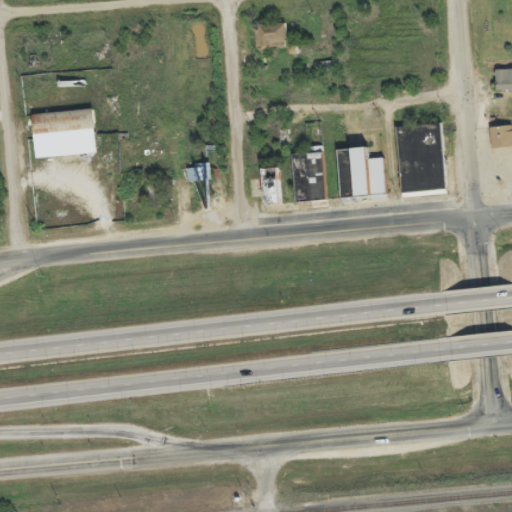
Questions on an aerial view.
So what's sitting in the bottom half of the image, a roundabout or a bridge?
bridge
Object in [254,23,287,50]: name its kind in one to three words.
house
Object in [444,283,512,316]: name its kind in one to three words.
bridge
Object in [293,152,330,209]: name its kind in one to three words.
building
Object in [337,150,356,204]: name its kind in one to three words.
building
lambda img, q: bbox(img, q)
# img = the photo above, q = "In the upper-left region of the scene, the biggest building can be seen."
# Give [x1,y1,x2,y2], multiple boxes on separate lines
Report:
[31,109,98,158]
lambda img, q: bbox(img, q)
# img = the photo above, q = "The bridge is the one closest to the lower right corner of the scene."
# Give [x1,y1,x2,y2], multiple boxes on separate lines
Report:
[446,330,512,362]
